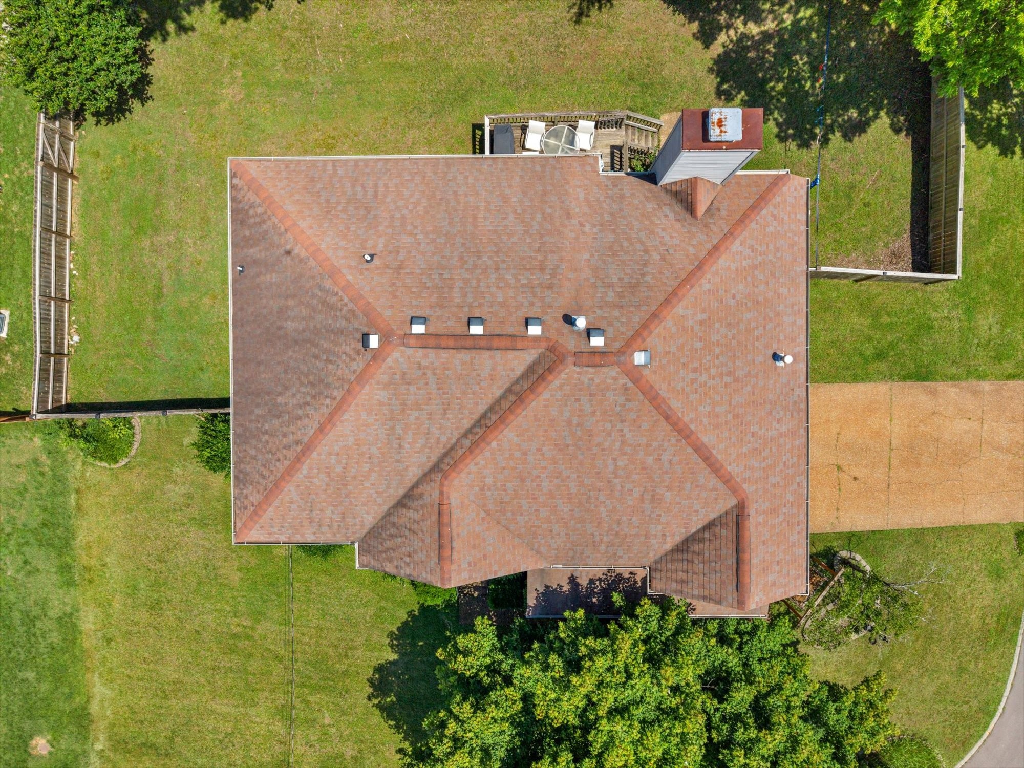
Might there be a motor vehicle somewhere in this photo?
No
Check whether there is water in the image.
No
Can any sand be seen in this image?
No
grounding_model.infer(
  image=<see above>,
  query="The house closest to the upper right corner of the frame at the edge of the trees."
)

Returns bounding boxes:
[227,106,813,620]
